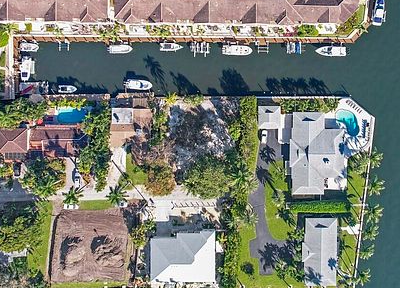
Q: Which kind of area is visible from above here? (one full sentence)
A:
This image shows a residential area.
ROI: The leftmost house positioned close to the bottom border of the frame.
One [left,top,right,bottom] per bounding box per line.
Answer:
[150,227,224,282]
